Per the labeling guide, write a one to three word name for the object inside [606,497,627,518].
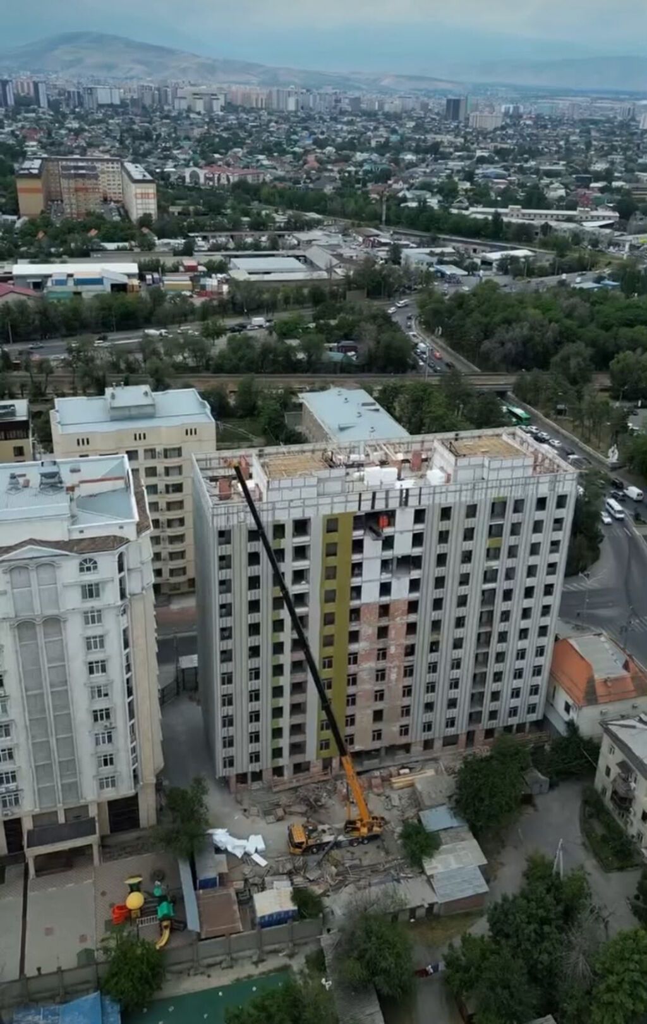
vehicle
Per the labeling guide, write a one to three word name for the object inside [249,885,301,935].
building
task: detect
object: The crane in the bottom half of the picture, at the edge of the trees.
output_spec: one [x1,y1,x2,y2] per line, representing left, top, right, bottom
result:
[233,461,389,855]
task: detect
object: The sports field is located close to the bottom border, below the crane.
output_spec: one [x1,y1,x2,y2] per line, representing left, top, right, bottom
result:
[125,962,306,1024]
